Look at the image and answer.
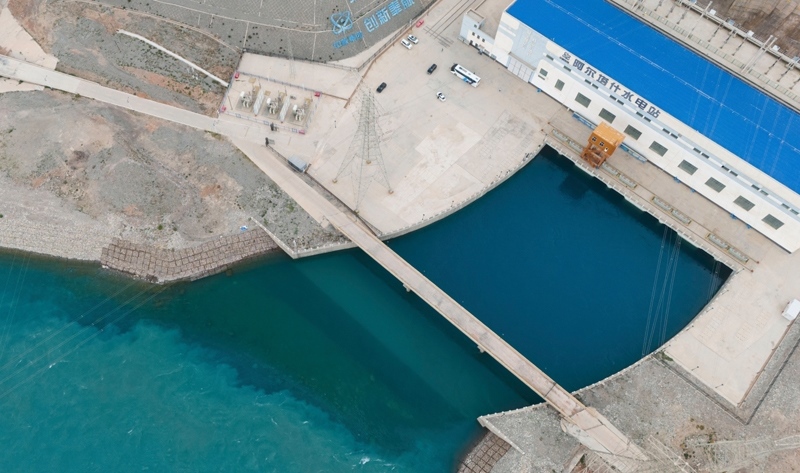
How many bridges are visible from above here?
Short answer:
one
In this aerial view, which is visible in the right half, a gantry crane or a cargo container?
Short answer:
gantry crane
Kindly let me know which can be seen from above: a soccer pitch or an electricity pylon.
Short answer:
electricity pylon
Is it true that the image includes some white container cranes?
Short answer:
No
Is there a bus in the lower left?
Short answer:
No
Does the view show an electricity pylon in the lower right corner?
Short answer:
Yes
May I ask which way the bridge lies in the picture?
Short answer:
at an angle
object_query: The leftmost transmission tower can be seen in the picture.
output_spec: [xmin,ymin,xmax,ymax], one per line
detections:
[330,85,395,213]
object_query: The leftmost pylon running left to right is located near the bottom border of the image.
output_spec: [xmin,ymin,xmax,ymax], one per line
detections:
[578,428,701,473]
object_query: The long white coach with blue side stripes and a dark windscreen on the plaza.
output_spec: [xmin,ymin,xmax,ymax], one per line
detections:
[450,62,484,87]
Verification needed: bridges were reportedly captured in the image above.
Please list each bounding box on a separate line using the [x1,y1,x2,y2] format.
[332,213,590,425]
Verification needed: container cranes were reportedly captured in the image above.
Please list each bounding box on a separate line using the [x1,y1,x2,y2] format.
[578,121,626,171]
